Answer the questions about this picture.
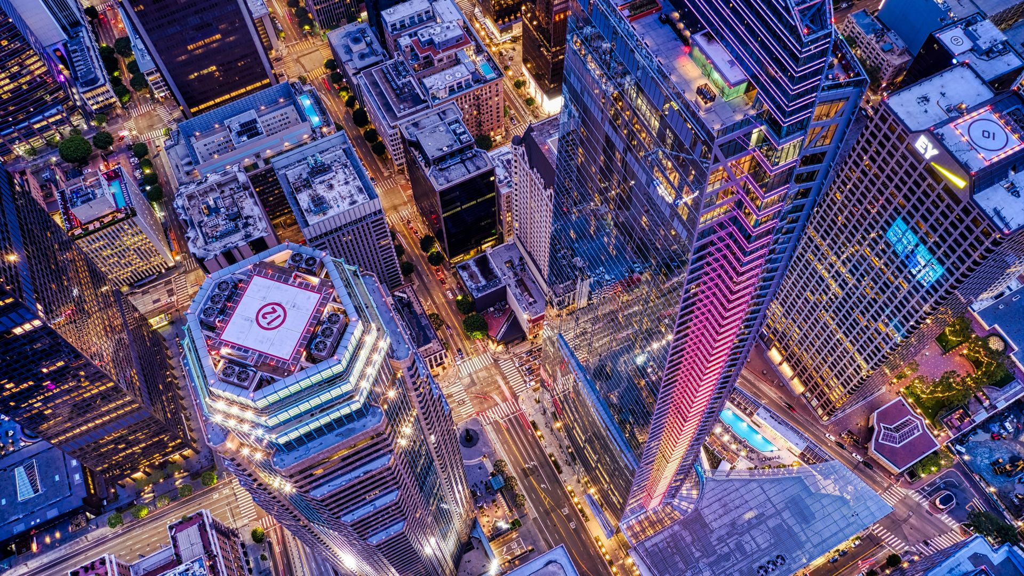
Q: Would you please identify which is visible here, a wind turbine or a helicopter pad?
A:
helicopter pad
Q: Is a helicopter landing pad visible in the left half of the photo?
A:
Yes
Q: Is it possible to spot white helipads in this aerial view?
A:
No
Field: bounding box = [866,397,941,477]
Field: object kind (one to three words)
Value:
building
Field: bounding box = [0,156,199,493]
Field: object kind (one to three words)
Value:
building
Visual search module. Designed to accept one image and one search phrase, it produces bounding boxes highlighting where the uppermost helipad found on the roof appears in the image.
[933,27,970,64]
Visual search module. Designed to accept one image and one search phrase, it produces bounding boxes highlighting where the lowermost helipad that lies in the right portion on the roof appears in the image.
[952,109,1022,164]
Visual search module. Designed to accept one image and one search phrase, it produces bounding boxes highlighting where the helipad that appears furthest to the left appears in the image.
[216,271,324,364]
